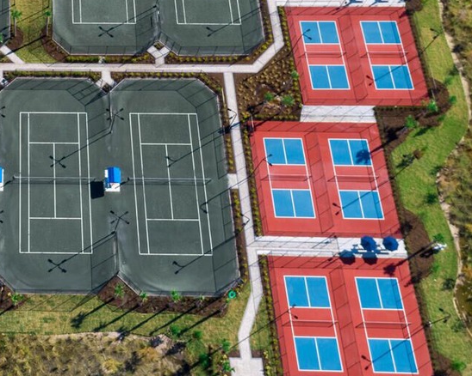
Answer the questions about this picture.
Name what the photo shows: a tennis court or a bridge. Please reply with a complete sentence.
Of the two, only a tennis court appears.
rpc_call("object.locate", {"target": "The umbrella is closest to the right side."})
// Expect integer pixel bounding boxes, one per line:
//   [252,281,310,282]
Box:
[381,235,399,251]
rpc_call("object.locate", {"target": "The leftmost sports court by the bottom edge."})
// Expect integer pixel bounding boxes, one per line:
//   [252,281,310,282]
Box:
[269,256,359,376]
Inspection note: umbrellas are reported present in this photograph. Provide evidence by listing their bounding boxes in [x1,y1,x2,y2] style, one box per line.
[381,235,399,251]
[358,235,375,250]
